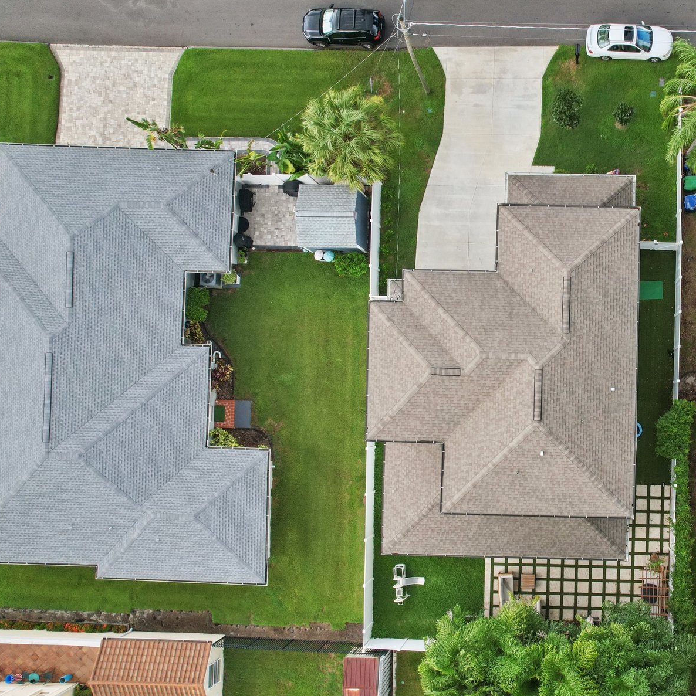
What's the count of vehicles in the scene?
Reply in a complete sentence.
The photo contains 2 vehicles.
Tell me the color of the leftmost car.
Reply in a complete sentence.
The leftmost car looks black in the image.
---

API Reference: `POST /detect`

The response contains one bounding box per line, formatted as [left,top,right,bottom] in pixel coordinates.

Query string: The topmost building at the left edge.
[0,143,276,588]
